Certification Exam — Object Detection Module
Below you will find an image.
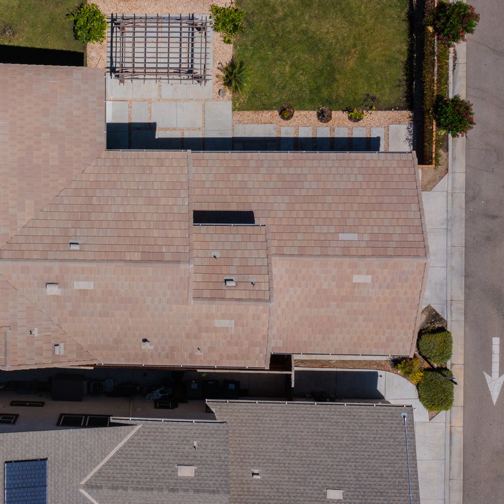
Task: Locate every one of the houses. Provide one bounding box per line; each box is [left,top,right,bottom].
[0,385,423,504]
[0,61,434,376]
